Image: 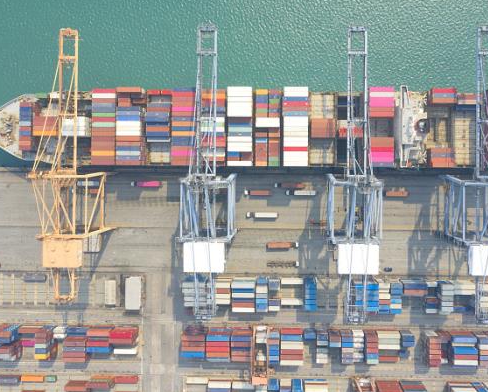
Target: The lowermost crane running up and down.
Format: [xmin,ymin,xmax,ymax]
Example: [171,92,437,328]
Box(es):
[251,321,277,386]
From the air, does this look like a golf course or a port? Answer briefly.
port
